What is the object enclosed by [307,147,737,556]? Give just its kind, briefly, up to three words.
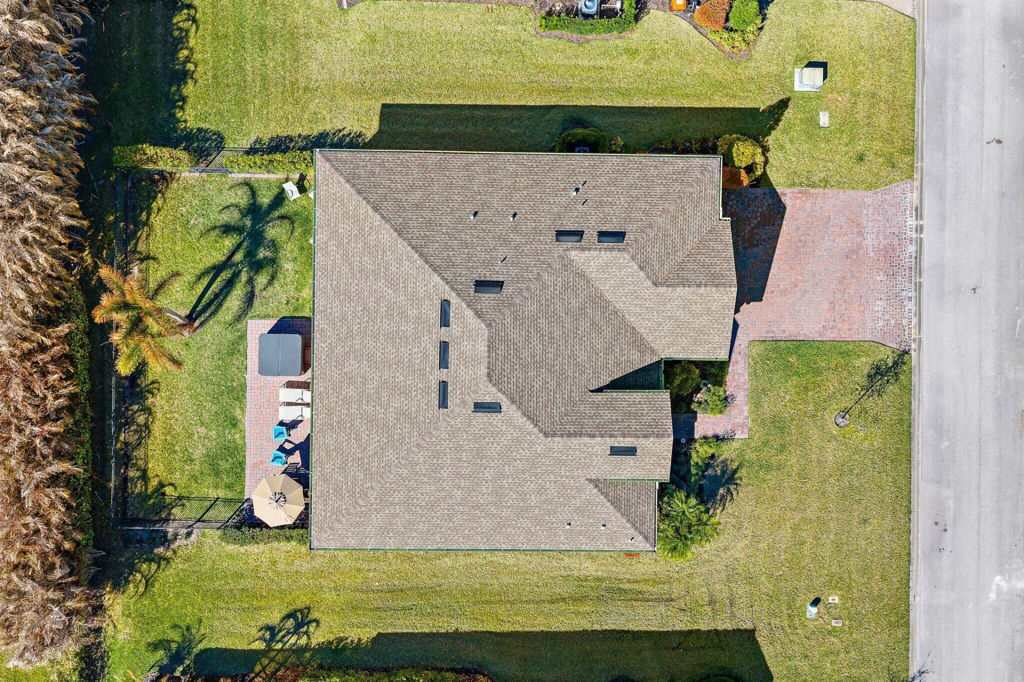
house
